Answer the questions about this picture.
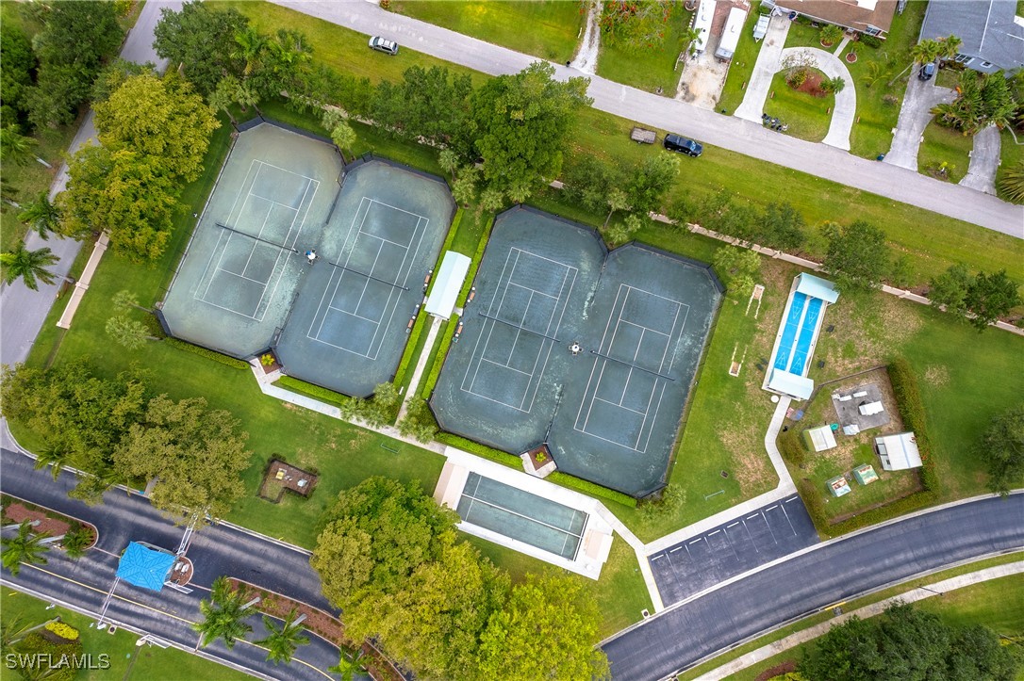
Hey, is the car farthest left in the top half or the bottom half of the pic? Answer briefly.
top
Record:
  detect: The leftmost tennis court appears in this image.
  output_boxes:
[162,123,347,357]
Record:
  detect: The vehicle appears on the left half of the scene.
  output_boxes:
[369,34,401,54]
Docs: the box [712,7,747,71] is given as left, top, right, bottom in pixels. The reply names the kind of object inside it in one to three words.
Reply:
trailer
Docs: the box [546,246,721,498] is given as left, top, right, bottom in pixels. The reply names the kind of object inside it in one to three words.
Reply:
tennis court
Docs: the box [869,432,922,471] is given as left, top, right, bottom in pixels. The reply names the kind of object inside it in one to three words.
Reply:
shed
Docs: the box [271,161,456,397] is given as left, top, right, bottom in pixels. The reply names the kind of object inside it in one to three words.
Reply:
tennis court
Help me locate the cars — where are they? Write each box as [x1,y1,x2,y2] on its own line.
[369,34,401,54]
[918,60,937,83]
[665,132,701,155]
